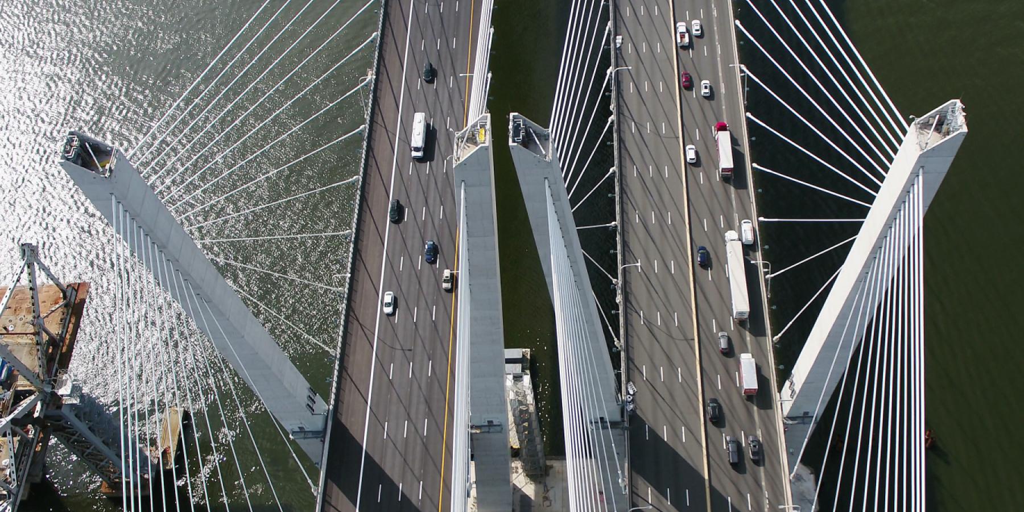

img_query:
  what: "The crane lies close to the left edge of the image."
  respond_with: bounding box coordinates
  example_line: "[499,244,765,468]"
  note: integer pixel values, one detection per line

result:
[0,241,158,512]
